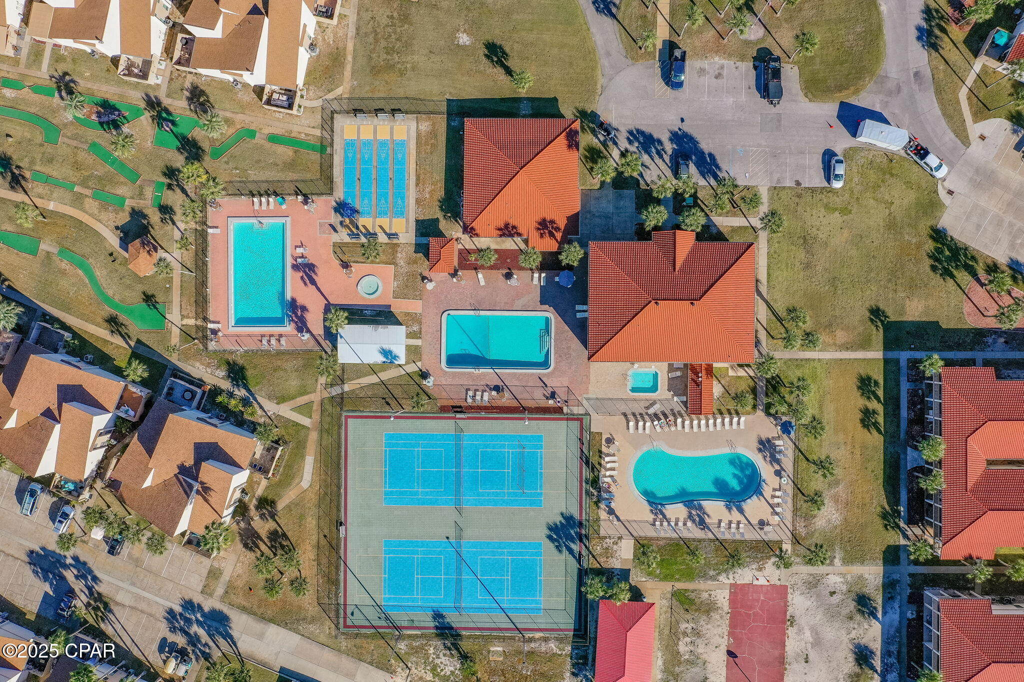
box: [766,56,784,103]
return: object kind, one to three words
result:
vehicle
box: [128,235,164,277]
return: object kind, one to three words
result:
gazebo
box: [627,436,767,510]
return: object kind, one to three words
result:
swimming pool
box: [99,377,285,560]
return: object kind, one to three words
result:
house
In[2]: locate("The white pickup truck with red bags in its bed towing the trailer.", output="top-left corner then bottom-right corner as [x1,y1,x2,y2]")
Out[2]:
[906,140,947,178]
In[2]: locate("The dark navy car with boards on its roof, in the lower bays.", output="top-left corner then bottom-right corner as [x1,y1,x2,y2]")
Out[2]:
[54,592,80,625]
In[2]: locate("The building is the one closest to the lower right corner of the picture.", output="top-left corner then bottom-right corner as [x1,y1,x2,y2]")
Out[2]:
[923,591,1024,682]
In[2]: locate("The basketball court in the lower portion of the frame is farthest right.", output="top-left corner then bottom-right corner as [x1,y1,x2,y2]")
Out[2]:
[726,584,788,682]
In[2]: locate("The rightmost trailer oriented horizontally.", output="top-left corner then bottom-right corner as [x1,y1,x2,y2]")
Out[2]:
[858,117,912,148]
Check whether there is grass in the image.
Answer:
Yes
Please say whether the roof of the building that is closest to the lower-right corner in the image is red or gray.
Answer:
red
